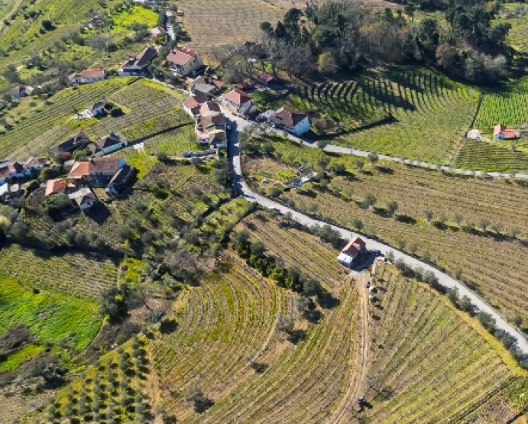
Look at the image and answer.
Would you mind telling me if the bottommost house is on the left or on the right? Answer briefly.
right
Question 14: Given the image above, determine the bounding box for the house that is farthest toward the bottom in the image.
[333,235,372,269]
